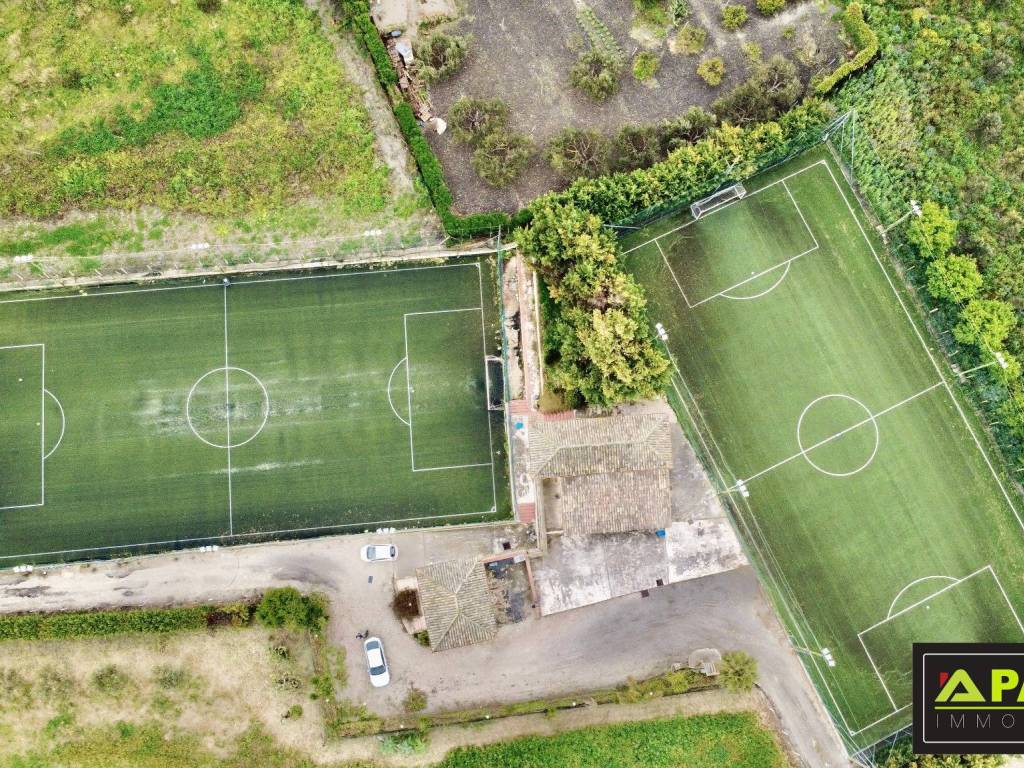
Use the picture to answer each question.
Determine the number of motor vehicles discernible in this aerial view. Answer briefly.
2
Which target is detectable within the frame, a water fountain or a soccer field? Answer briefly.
soccer field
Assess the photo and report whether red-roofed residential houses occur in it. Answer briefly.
No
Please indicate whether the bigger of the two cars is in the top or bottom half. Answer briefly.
bottom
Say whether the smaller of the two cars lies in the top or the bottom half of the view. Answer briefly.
bottom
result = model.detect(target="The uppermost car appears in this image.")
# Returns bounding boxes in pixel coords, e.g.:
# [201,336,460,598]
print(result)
[361,542,398,563]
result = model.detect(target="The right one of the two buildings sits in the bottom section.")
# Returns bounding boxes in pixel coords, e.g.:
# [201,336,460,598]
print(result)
[528,413,673,536]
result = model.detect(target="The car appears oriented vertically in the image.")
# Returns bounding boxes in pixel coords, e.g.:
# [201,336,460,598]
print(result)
[363,635,391,689]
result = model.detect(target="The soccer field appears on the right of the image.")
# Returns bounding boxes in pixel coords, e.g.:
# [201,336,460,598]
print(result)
[599,143,1024,753]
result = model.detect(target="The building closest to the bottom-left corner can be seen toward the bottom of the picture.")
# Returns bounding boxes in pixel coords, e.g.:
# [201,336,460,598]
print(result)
[415,555,499,653]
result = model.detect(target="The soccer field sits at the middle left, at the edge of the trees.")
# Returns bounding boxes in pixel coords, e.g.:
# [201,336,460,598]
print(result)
[0,255,516,568]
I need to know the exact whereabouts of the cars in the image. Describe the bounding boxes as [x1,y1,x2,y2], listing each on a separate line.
[363,635,391,689]
[361,542,398,563]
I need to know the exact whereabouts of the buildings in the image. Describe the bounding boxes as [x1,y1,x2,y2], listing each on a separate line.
[528,413,673,536]
[415,555,499,653]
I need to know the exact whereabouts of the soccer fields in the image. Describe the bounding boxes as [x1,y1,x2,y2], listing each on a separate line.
[0,255,516,568]
[599,143,1024,753]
